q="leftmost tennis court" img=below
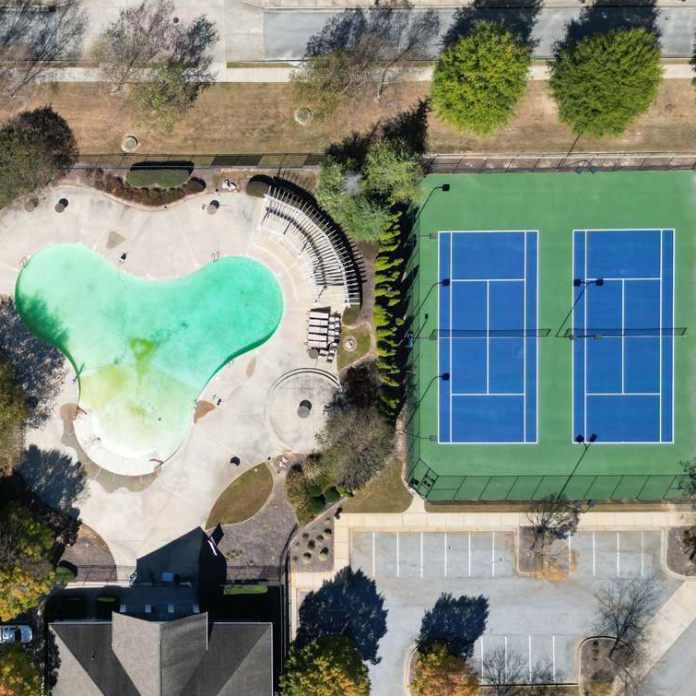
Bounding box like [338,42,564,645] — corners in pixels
[410,173,556,500]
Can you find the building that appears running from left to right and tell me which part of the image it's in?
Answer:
bottom left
